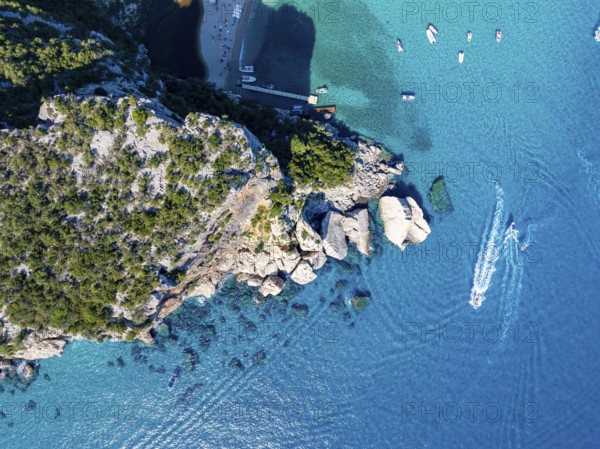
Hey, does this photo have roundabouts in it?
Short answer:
No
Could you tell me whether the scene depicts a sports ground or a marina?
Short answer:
marina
